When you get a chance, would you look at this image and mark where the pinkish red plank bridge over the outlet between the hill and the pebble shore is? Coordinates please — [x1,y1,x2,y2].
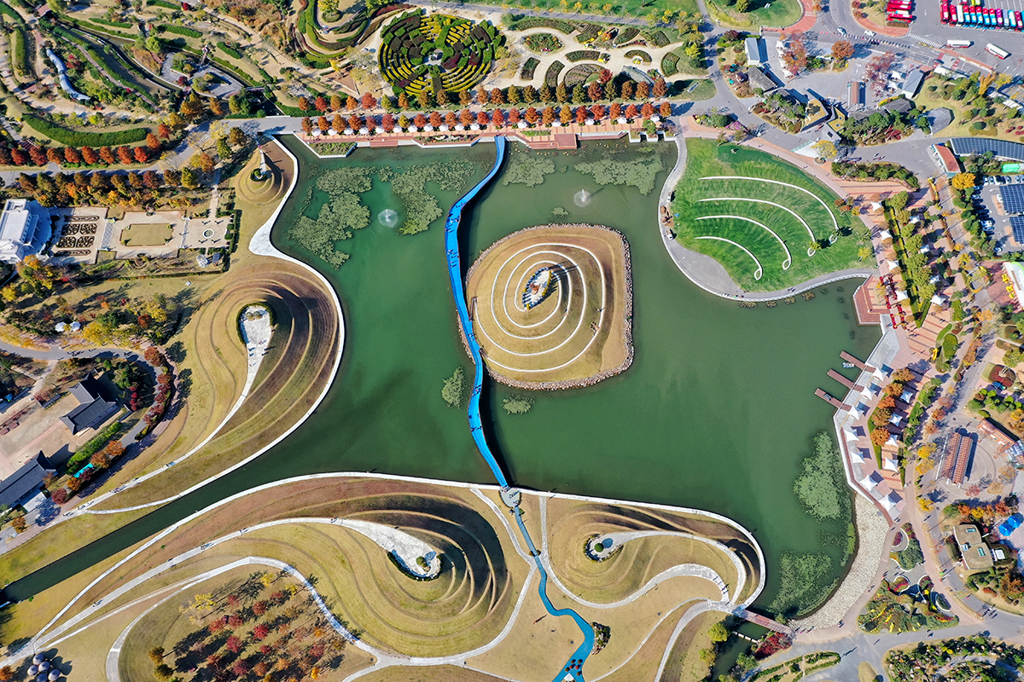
[740,609,797,639]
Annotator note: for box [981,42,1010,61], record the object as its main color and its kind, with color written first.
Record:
white vehicle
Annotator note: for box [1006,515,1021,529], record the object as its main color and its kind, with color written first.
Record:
blue umbrella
